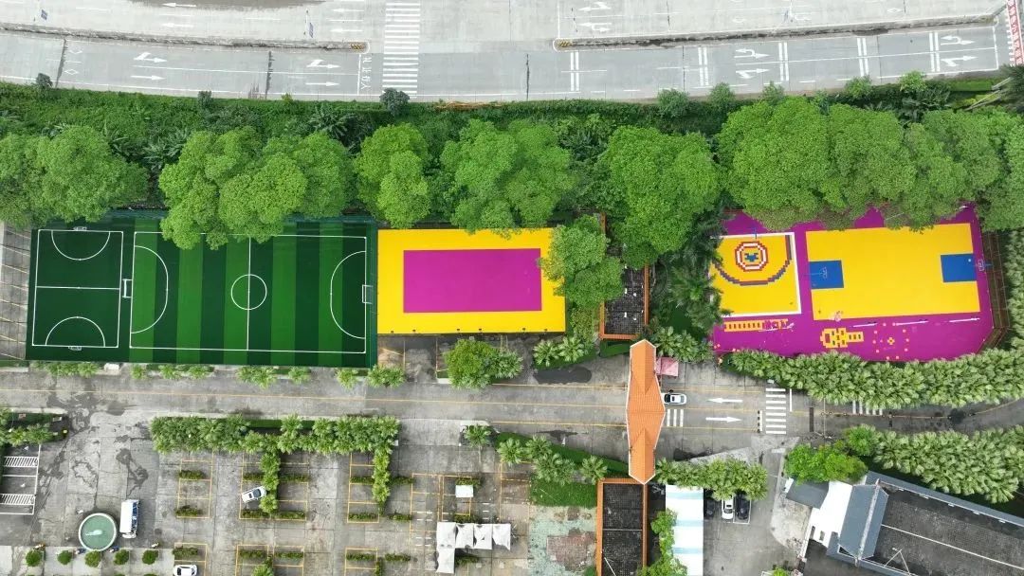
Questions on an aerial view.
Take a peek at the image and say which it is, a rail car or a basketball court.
basketball court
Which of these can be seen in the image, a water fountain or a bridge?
water fountain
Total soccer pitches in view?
2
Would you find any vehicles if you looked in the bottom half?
Yes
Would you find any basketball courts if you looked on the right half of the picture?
Yes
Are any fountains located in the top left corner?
No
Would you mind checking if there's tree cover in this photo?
Yes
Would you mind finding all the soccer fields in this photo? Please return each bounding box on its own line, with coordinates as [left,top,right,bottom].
[129,221,378,367]
[26,221,133,362]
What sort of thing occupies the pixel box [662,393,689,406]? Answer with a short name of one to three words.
vehicle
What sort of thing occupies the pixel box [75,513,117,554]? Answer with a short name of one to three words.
fountain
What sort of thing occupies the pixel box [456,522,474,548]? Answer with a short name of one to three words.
tent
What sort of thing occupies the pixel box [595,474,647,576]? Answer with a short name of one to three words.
building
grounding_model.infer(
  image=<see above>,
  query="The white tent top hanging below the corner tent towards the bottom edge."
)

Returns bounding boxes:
[436,548,456,574]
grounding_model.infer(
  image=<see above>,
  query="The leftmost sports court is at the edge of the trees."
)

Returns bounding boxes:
[378,227,567,335]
